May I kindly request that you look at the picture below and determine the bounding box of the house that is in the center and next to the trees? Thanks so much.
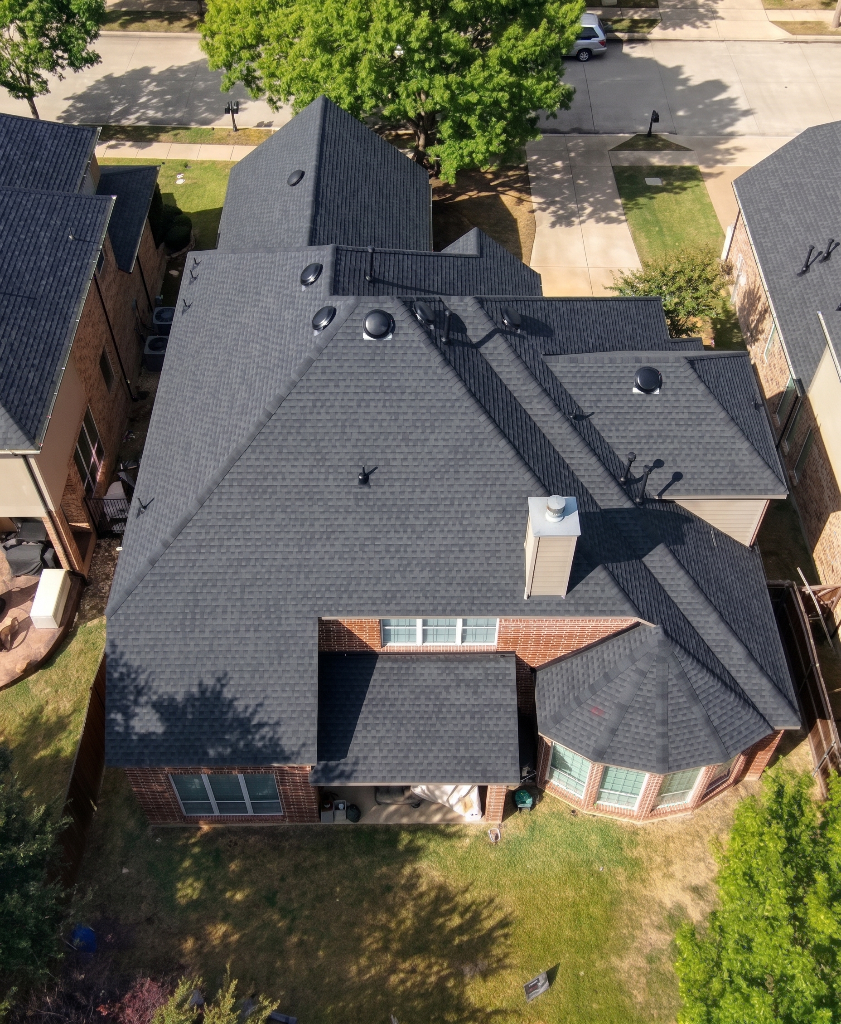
[104,94,802,829]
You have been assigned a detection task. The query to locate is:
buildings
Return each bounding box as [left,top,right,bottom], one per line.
[104,94,802,829]
[0,107,169,597]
